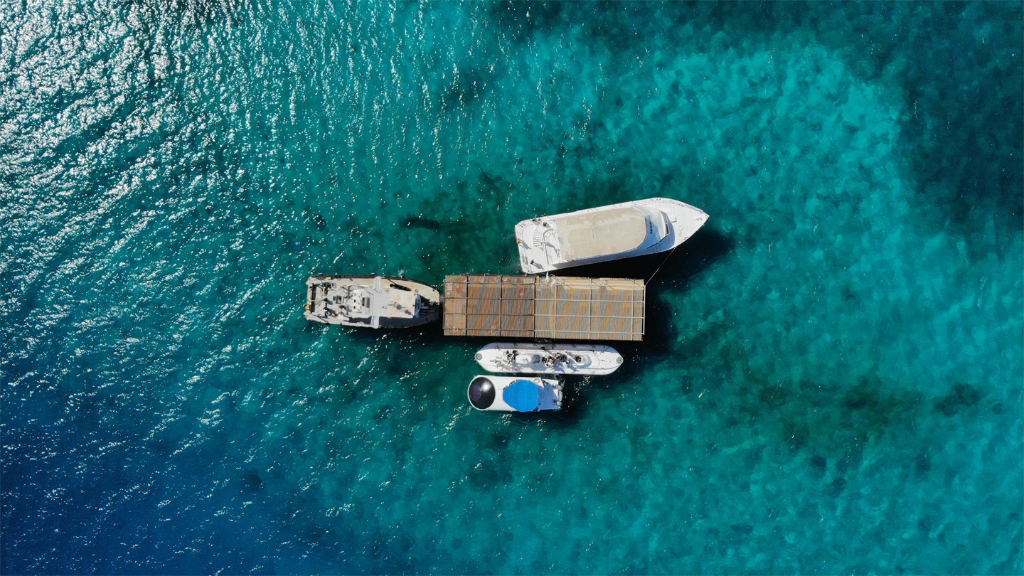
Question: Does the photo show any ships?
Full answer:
Yes, looking at the shot, I can spot a ship.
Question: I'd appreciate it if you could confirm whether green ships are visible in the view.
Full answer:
No, the scene contains no green ship.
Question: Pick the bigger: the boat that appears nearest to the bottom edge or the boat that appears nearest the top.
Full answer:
It is the boat that appears nearest the top that is larger, not the boat that appears nearest to the bottom edge.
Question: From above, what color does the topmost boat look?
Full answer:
The color of the topmost boat is white.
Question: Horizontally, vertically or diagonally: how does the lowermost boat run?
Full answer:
I'd say the lowermost boat is aligned horizontally in the picture.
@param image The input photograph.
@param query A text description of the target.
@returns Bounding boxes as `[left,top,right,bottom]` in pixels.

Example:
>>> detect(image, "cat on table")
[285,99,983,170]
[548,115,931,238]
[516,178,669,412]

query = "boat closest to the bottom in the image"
[468,375,563,412]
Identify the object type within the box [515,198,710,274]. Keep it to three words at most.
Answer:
boat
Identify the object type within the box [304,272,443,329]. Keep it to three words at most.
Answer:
boat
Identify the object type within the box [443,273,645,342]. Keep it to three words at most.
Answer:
ship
